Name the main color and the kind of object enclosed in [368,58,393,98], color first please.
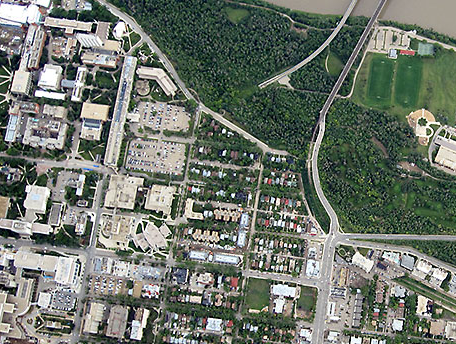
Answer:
green soccer field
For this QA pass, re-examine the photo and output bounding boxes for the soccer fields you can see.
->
[394,61,422,108]
[368,58,393,98]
